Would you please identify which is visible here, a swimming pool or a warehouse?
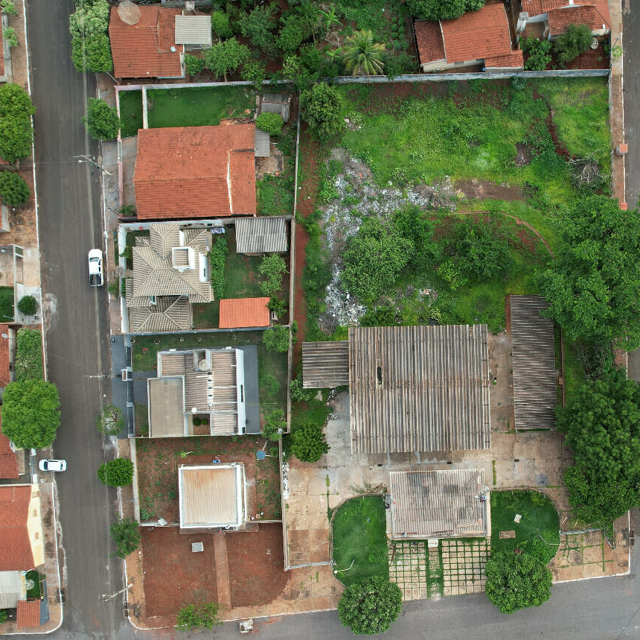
warehouse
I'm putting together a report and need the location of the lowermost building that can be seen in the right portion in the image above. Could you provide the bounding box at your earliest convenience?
[386,468,491,547]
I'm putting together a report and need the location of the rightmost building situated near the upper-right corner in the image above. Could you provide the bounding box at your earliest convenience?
[522,0,611,42]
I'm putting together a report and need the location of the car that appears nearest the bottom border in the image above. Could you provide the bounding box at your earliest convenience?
[40,457,67,472]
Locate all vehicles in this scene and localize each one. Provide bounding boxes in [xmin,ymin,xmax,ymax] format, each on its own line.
[88,249,105,285]
[40,457,67,472]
